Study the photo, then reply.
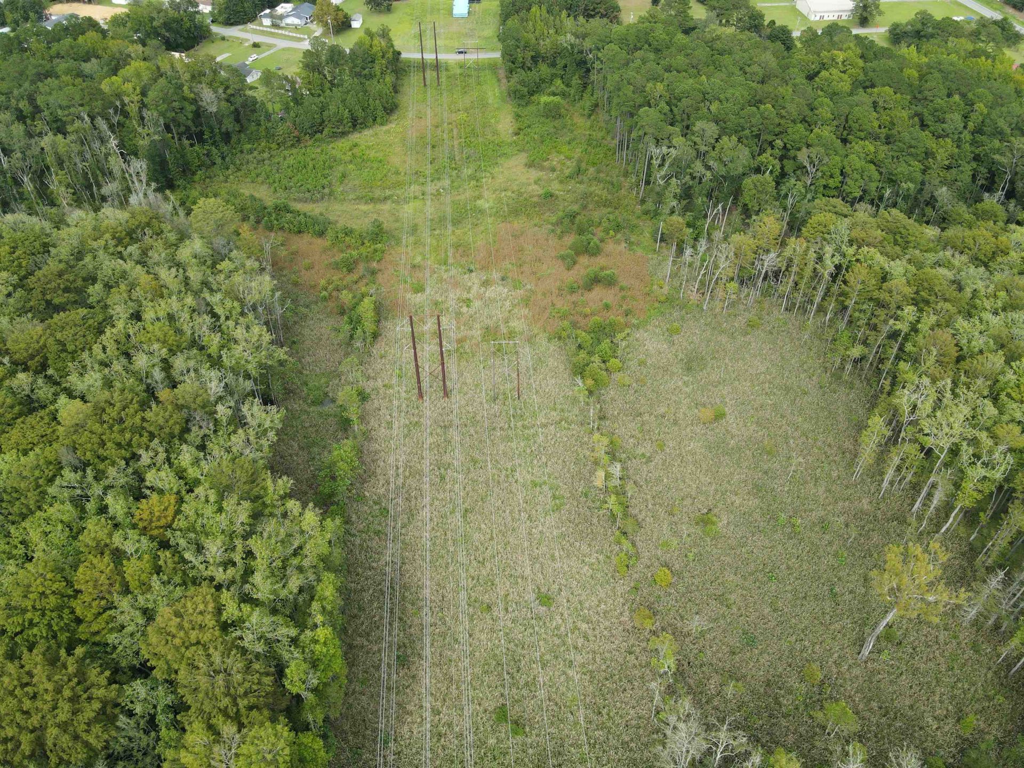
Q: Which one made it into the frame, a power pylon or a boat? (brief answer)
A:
power pylon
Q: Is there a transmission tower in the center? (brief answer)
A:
Yes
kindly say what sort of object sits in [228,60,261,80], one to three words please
house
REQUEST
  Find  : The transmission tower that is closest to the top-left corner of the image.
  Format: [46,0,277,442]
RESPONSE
[416,24,443,86]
